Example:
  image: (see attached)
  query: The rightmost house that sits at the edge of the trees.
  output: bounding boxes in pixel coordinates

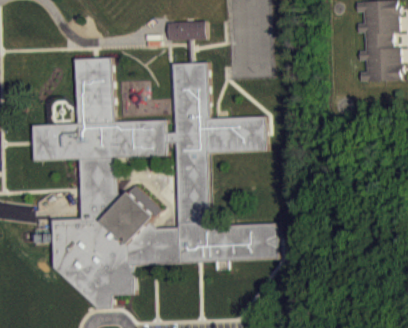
[356,0,406,80]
